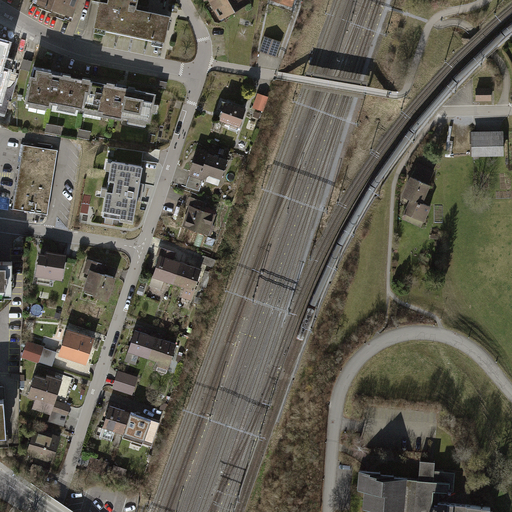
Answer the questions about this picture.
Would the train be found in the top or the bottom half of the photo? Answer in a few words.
top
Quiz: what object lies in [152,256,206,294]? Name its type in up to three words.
house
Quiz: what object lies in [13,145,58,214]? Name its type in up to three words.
building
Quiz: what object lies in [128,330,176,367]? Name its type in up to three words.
house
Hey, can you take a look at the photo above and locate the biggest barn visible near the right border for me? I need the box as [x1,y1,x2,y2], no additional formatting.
[471,130,504,158]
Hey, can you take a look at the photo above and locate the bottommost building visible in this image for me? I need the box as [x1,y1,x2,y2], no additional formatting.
[357,473,406,512]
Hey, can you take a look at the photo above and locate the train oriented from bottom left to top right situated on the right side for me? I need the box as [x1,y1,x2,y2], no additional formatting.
[298,20,512,338]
